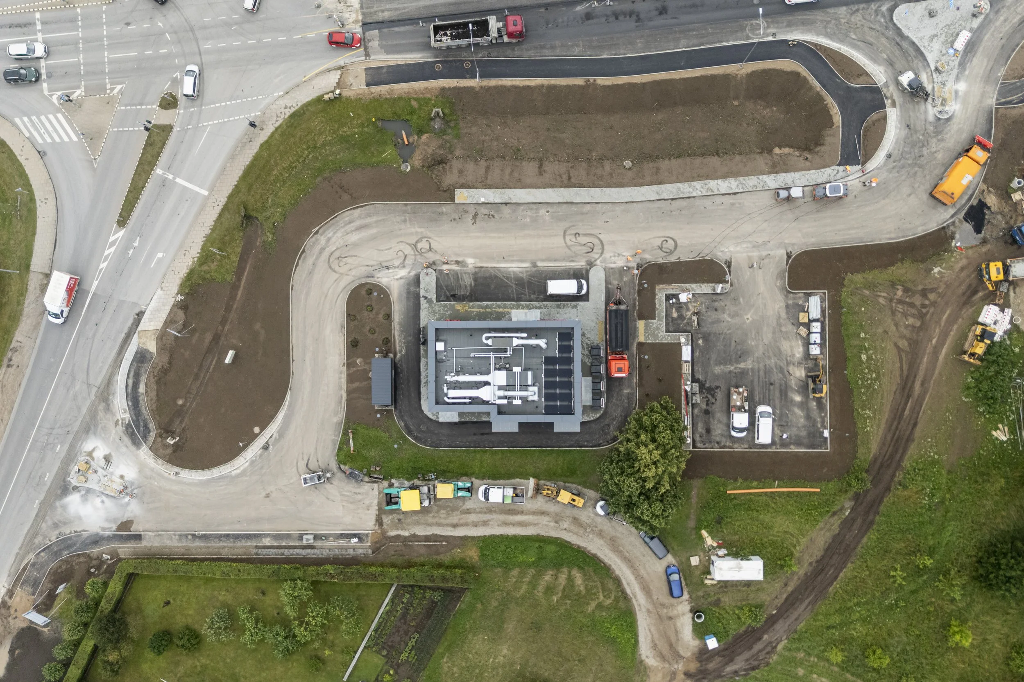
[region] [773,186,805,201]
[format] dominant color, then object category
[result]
white work vehicle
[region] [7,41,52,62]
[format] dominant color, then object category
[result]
white car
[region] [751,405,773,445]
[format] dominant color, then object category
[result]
white vehicle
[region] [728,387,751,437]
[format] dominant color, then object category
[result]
white truck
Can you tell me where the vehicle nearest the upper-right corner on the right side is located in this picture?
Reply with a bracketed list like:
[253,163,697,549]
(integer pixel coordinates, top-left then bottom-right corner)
[891,69,932,108]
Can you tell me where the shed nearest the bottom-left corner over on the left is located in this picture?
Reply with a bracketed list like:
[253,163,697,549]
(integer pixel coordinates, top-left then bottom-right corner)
[372,358,394,404]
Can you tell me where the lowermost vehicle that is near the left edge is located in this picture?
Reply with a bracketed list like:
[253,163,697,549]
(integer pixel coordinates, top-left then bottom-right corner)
[35,268,77,324]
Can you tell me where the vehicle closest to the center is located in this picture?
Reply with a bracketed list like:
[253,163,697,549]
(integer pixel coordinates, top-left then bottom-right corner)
[547,277,587,297]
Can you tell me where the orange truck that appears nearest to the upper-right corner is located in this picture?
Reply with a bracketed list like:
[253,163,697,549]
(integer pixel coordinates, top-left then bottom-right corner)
[921,136,992,214]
